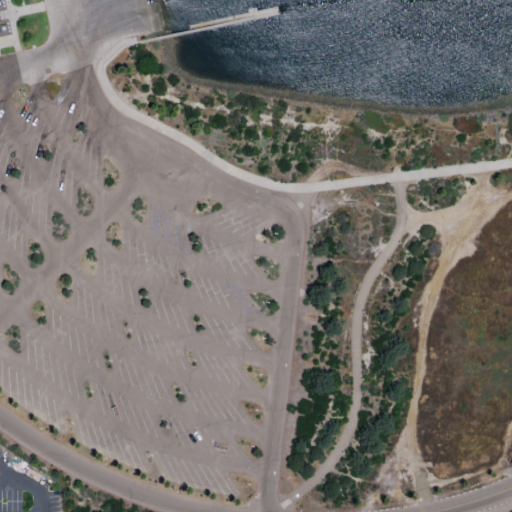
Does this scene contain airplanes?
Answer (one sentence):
No, no airplane can be seen from above.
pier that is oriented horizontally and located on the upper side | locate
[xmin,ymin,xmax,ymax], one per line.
[130,6,280,45]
